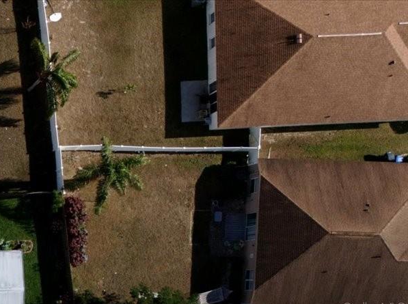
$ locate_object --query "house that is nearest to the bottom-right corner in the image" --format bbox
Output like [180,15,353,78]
[239,159,408,304]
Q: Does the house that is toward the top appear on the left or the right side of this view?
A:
right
